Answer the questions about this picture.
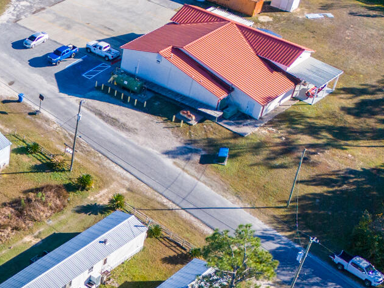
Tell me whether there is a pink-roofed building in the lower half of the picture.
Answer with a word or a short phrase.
No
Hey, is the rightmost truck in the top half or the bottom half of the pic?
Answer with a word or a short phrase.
bottom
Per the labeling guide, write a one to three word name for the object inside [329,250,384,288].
truck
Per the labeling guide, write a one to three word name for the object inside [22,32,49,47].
car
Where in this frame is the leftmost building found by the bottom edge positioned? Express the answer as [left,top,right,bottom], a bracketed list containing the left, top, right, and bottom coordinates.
[0,208,151,288]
